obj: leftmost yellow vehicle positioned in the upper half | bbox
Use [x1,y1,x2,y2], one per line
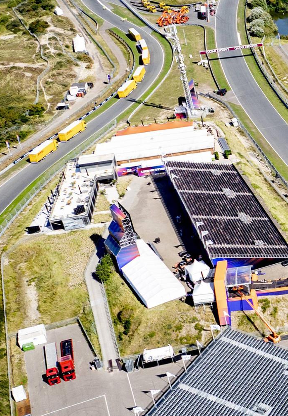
[28,136,69,162]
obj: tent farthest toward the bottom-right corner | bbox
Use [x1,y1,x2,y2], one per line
[189,283,217,304]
